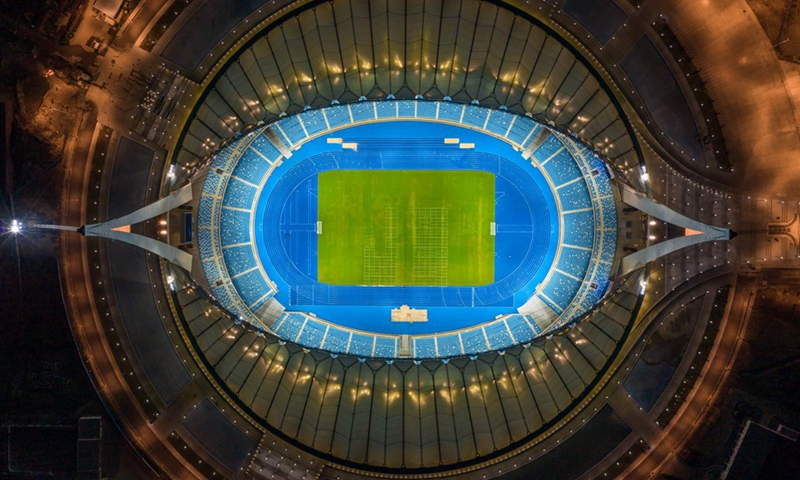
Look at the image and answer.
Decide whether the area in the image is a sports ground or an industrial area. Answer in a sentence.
What you see here is a sports ground.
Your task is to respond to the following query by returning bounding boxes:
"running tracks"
[255,122,559,335]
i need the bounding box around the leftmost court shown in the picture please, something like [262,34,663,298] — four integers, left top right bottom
[8,425,78,475]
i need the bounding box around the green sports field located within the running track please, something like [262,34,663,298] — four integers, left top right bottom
[318,170,495,287]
